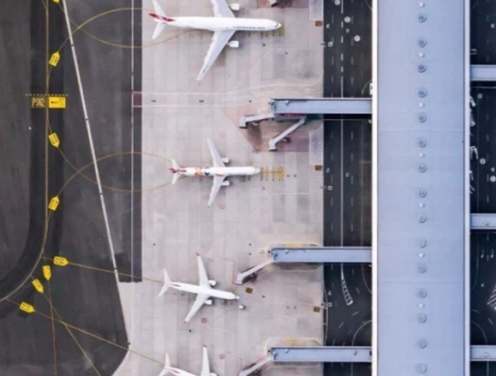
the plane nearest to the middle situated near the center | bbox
[170,135,260,207]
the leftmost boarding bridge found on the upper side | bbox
[240,115,276,131]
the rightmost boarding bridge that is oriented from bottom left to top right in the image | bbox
[269,119,309,152]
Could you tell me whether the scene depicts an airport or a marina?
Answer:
airport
